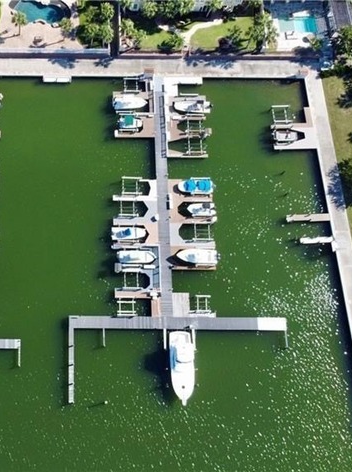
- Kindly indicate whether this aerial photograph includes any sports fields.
No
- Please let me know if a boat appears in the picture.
Yes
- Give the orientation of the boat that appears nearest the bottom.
from top to bottom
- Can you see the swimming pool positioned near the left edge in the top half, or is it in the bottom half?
top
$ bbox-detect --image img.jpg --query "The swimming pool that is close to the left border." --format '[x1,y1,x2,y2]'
[11,0,71,25]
